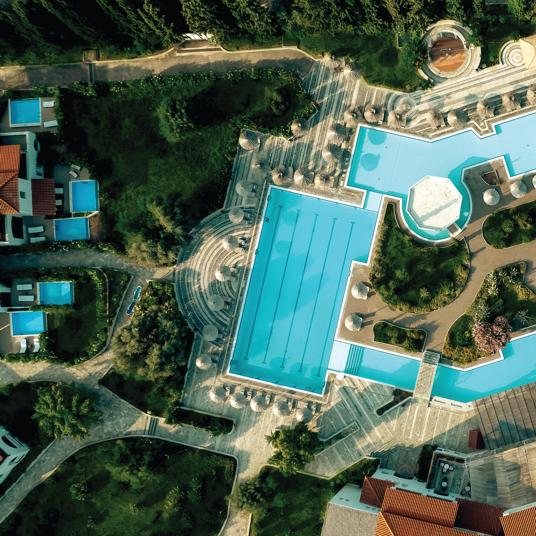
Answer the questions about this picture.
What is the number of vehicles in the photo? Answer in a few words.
0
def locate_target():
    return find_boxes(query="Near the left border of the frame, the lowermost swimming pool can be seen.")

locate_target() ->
[9,309,47,338]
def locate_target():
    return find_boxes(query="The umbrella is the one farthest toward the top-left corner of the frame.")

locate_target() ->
[239,130,258,150]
